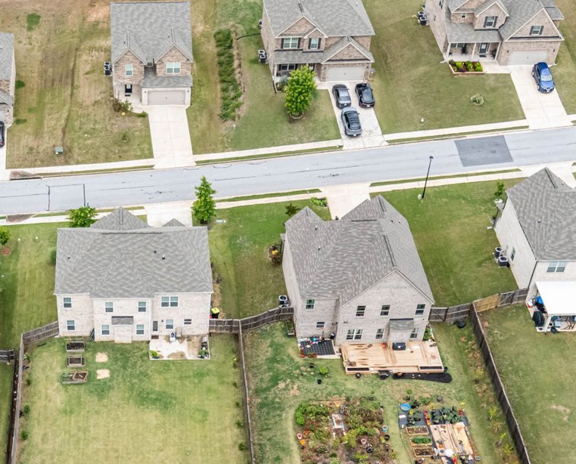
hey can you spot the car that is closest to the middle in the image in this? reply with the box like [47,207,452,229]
[343,109,363,133]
